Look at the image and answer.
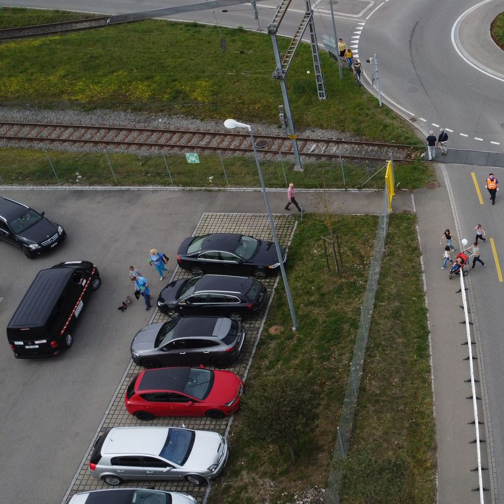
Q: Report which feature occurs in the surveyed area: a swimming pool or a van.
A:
van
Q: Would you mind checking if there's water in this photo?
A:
No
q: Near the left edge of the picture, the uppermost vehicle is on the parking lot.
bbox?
[0,191,65,260]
